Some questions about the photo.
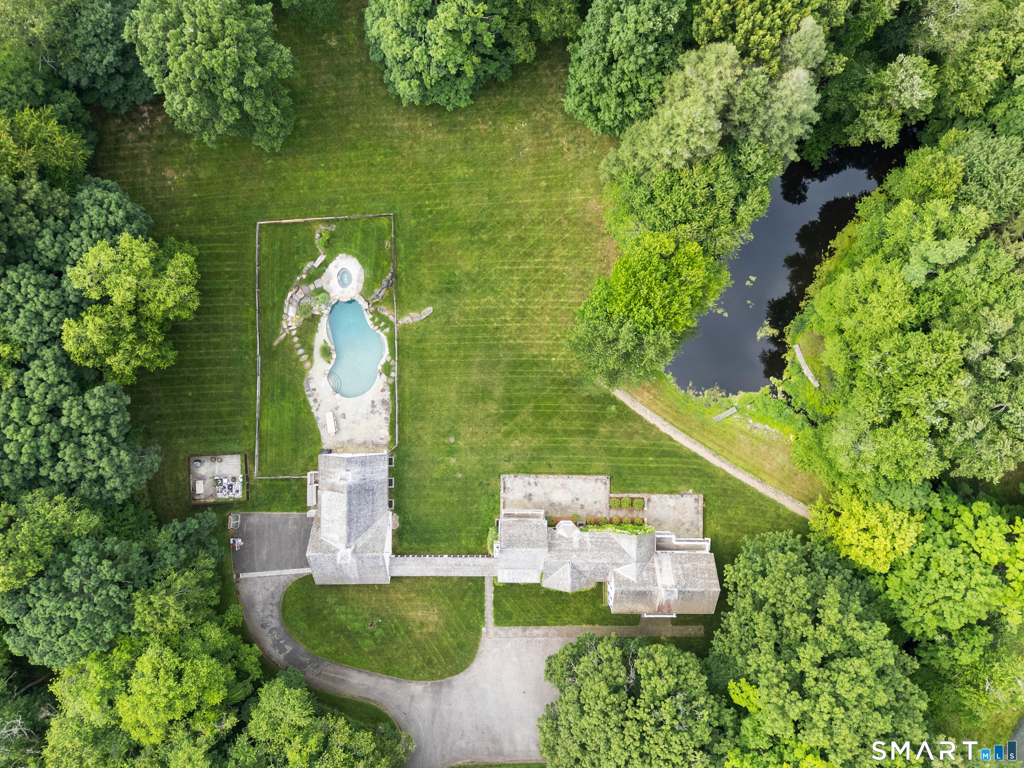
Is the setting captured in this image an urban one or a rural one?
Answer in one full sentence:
The area shown here is rural.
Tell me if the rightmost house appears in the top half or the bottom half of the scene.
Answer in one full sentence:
The rightmost house sits in the bottom half of the picture.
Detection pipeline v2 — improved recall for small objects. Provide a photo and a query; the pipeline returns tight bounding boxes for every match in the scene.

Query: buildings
[497,508,720,618]
[307,453,392,584]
